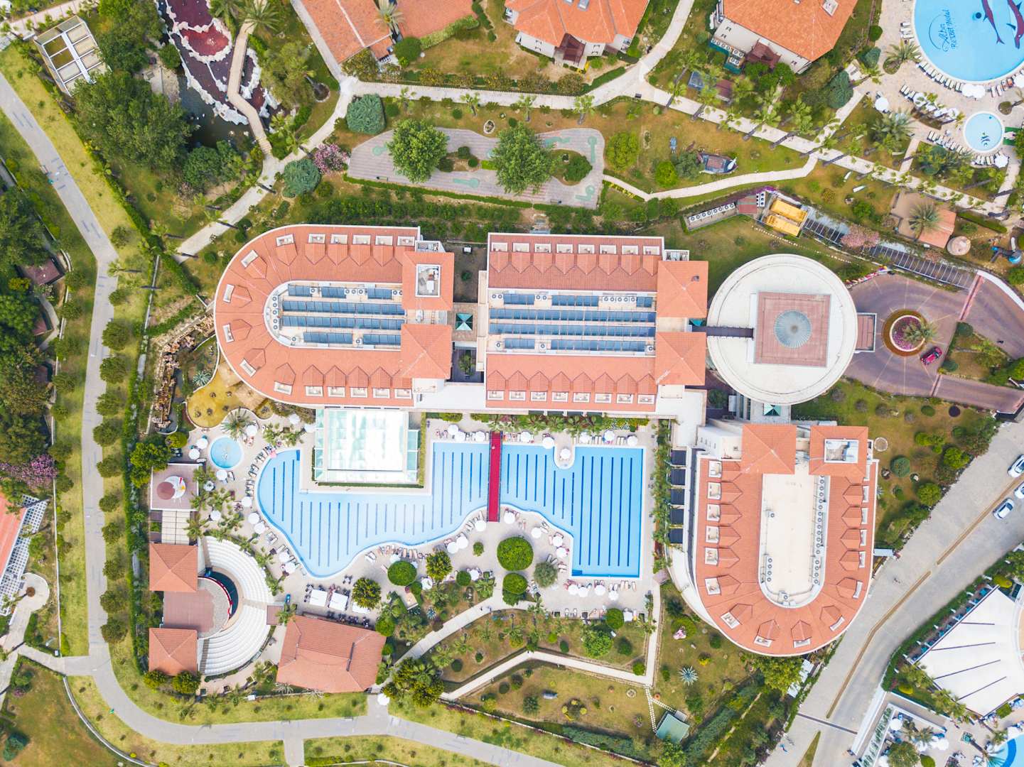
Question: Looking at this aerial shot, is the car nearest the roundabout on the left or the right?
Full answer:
You can find the car nearest the roundabout on the right side of the picture.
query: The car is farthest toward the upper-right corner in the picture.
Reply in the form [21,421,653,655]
[916,344,943,367]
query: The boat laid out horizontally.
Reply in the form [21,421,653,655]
[700,154,735,170]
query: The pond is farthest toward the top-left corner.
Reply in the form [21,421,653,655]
[153,0,273,149]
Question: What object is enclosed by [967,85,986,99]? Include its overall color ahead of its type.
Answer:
white umbrella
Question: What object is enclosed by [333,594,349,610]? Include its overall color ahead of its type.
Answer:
white umbrella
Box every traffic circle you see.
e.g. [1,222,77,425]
[883,310,928,356]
